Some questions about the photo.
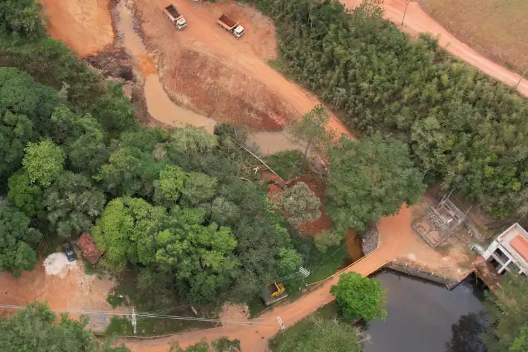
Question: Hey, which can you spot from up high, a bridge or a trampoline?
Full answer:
Visible in the photo is a bridge.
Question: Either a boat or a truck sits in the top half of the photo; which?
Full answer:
The feature located in the top half of the photo is a truck.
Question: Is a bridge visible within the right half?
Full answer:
Yes, a bridge is visible within the right half.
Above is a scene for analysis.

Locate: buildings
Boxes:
[465,215,528,300]
[72,233,107,274]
